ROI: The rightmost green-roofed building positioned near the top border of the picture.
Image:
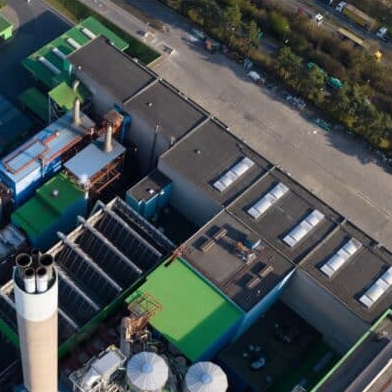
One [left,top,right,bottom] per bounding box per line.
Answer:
[22,17,129,113]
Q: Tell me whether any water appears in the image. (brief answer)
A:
No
